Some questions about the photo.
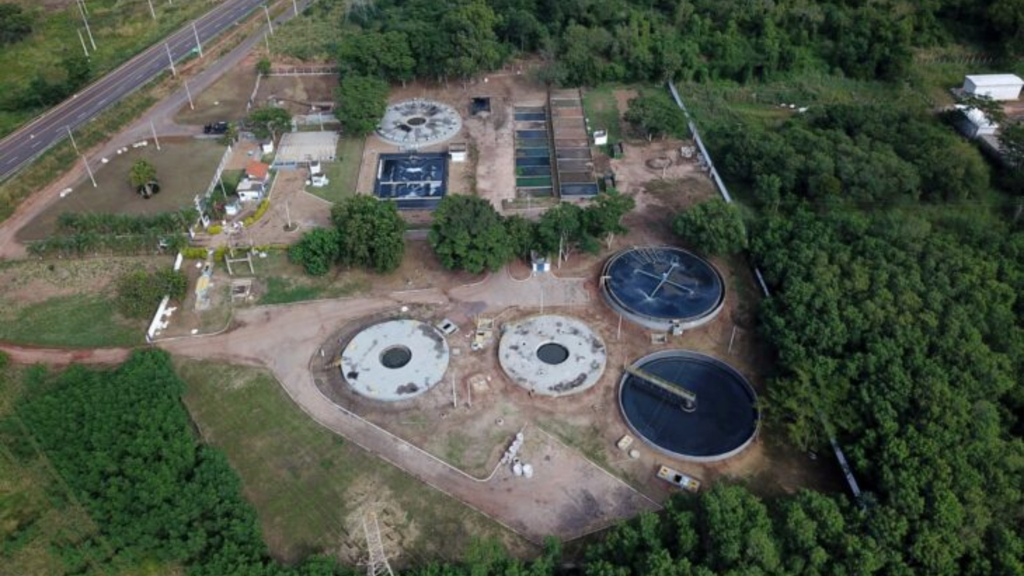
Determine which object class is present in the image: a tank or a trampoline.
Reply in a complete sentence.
The image shows a tank.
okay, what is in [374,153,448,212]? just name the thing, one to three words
pond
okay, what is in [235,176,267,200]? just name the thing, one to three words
house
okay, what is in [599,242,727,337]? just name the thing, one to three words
storage tank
